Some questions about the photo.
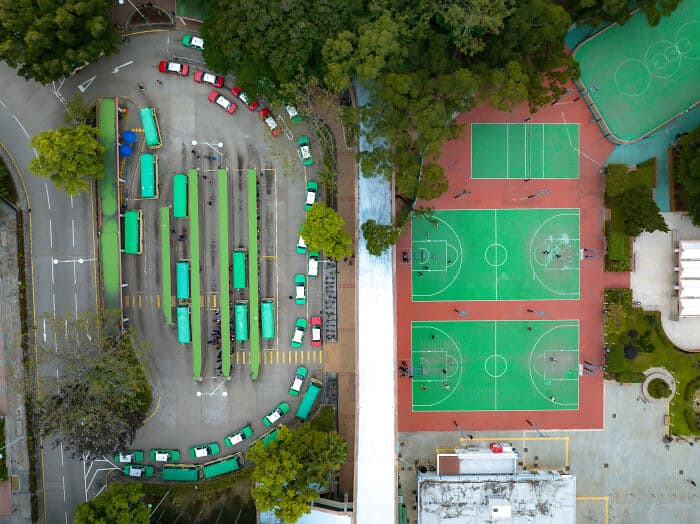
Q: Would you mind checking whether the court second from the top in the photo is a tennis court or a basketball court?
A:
basketball court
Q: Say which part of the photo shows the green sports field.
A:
top right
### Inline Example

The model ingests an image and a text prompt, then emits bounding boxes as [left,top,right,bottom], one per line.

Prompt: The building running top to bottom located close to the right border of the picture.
[664,240,700,318]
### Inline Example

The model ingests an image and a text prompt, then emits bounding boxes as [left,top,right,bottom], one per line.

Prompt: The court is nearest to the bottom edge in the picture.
[412,320,580,411]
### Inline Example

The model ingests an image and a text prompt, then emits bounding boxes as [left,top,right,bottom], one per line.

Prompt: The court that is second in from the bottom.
[412,208,580,301]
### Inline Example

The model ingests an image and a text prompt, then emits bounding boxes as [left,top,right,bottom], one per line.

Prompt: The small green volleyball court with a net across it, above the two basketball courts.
[471,123,580,179]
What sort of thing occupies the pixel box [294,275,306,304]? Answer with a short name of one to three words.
vehicle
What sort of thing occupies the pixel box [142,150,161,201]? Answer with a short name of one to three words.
vehicle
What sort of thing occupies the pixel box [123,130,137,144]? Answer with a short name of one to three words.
umbrella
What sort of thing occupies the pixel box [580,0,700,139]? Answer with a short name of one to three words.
sports field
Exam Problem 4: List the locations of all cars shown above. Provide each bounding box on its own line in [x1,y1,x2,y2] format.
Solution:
[310,316,323,346]
[195,71,225,88]
[262,401,291,426]
[116,449,146,463]
[294,275,306,304]
[306,182,318,211]
[260,108,282,137]
[209,92,238,115]
[160,61,190,77]
[291,318,306,348]
[299,137,314,166]
[150,448,180,463]
[289,366,308,397]
[190,441,221,458]
[232,87,260,112]
[224,424,254,447]
[125,462,155,477]
[280,97,304,126]
[296,225,308,255]
[308,251,320,279]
